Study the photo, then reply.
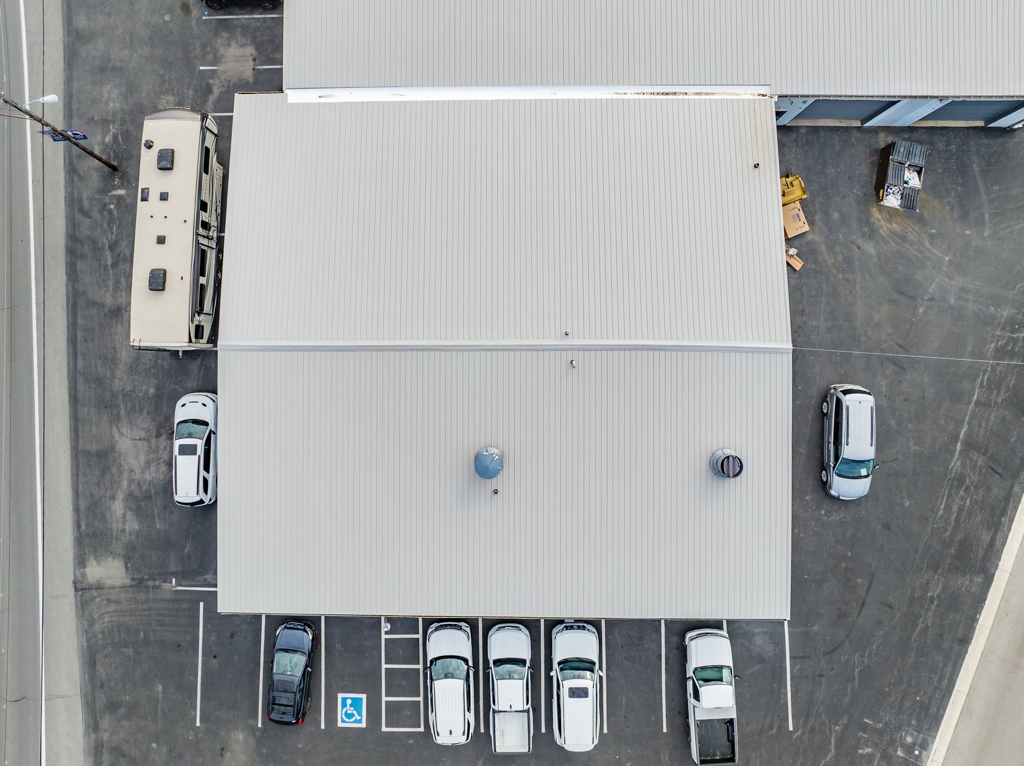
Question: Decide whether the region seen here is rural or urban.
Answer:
urban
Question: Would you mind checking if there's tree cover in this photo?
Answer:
No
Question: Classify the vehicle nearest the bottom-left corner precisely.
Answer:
automobile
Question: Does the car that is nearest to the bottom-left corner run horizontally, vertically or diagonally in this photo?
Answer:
vertically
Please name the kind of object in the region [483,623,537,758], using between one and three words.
truck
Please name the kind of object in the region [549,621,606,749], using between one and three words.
car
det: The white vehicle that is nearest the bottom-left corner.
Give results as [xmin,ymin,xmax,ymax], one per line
[167,392,216,506]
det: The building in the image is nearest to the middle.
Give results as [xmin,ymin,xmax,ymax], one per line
[215,85,794,618]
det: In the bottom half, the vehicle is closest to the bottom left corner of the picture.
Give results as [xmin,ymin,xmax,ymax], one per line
[263,619,317,726]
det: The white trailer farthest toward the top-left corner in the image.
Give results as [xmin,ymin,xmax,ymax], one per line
[131,112,225,358]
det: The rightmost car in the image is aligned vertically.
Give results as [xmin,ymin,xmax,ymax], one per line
[824,385,880,498]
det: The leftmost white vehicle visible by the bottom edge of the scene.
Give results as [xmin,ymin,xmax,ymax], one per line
[421,623,478,746]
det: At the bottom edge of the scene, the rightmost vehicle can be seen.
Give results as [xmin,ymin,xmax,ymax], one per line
[684,627,739,766]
